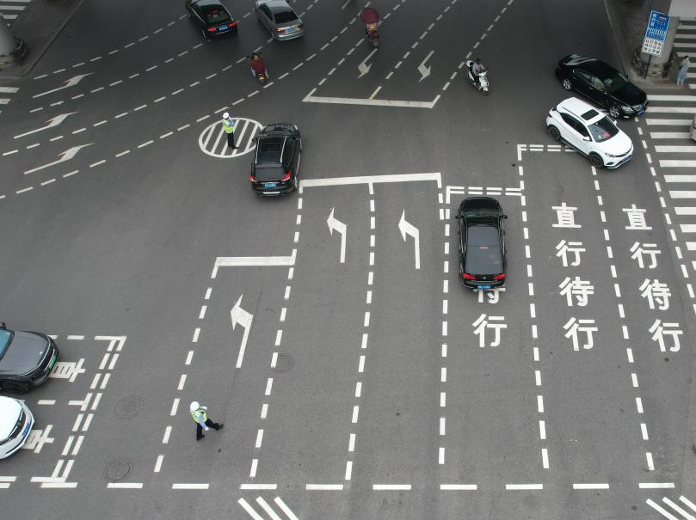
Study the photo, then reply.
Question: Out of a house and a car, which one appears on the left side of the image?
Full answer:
You can see a car on the left side of the image.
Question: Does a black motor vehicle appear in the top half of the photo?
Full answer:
Yes, I can see a black motor vehicle in the top half of the photo.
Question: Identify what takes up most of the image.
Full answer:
For the most part, this view shows paved ground.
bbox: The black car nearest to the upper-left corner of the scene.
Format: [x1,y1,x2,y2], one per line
[182,0,240,43]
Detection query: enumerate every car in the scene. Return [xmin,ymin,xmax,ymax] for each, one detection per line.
[555,52,653,119]
[0,323,59,393]
[454,193,514,289]
[248,121,304,200]
[253,0,309,42]
[0,395,35,456]
[545,97,638,169]
[182,0,240,43]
